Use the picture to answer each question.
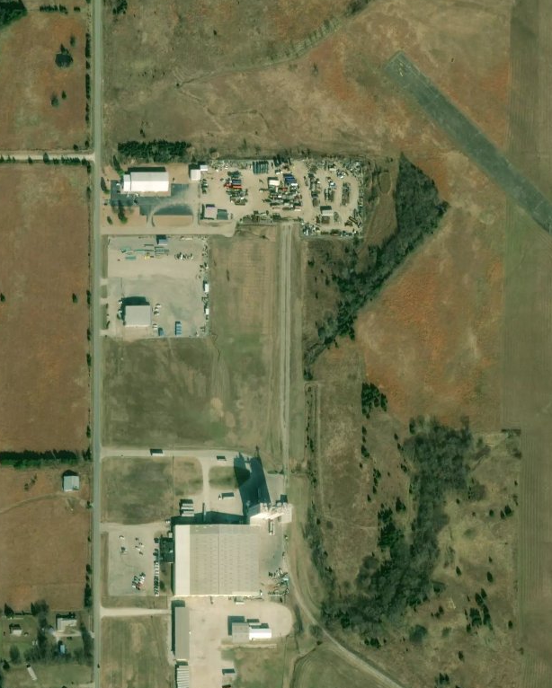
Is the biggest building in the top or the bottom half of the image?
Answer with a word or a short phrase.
bottom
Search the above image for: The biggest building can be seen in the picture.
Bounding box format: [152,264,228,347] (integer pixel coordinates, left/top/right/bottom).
[173,525,260,596]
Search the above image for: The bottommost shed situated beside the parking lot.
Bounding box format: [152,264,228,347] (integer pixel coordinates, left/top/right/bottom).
[174,607,189,660]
